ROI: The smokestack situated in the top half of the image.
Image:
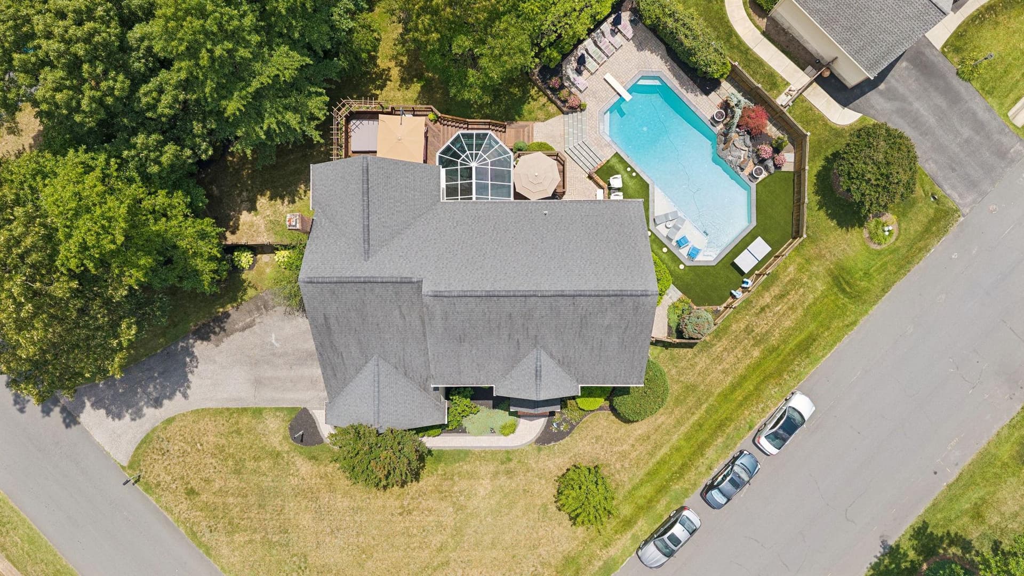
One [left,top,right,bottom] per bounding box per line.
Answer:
[287,214,318,236]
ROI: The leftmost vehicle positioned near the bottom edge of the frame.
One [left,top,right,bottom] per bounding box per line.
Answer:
[640,506,698,565]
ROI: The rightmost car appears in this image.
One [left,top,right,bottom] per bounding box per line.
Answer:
[752,393,810,454]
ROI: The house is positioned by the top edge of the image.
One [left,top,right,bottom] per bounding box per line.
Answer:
[774,0,954,87]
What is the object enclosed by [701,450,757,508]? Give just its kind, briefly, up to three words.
car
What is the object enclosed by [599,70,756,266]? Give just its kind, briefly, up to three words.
swimming pool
